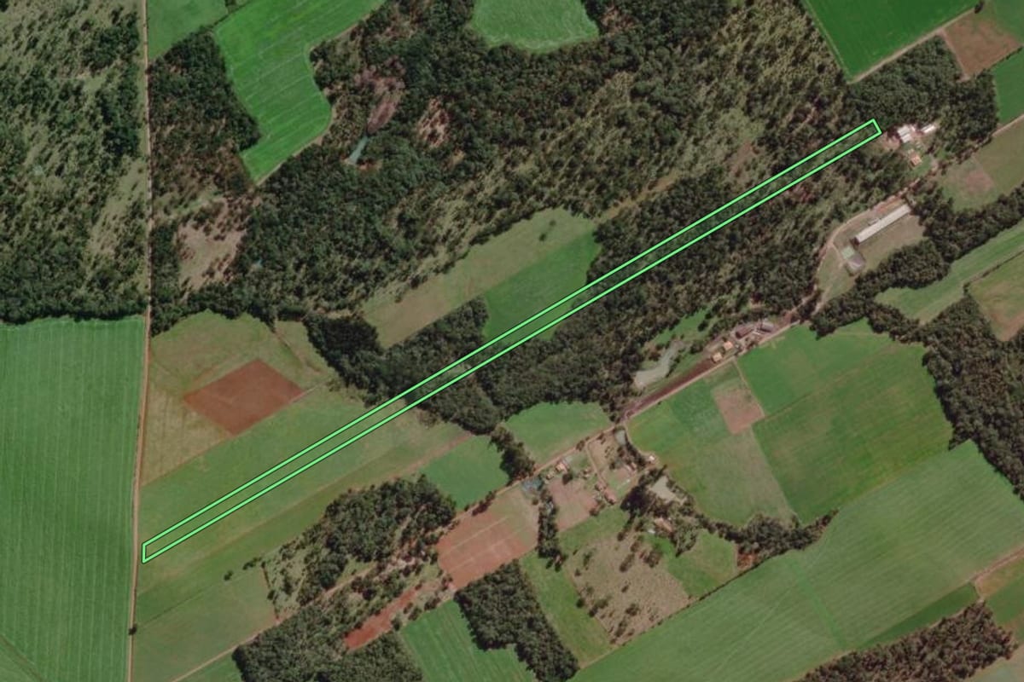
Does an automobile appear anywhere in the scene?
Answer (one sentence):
No, I find no automobile anywhere in the image.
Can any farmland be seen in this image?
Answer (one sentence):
Yes, there's farmland in this view.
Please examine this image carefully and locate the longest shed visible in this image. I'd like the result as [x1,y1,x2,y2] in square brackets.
[857,204,912,242]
